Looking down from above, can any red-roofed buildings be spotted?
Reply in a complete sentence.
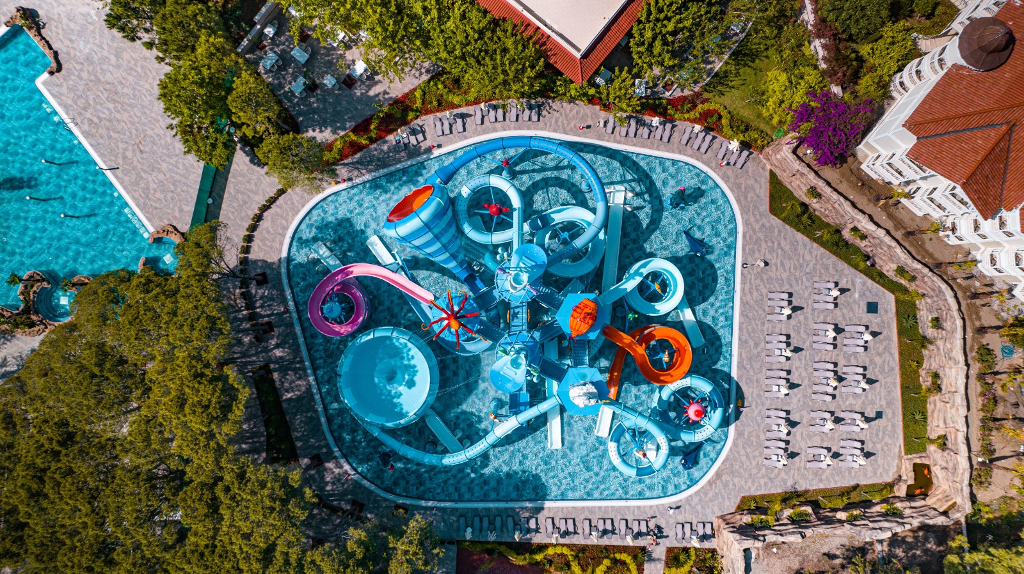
Yes, there's a red-roofed building here.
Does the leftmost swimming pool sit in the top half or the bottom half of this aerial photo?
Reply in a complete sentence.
You can find the leftmost swimming pool in the top half.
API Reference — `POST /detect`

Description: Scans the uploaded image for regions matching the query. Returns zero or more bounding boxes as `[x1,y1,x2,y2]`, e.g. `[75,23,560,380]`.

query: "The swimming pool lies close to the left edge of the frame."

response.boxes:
[0,24,182,321]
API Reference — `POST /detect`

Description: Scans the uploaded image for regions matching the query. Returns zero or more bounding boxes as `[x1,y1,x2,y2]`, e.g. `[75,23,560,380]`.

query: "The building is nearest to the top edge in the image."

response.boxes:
[477,0,642,86]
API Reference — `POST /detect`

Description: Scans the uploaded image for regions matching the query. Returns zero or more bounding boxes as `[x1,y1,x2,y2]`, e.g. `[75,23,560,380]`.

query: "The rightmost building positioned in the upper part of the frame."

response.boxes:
[860,0,1024,298]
